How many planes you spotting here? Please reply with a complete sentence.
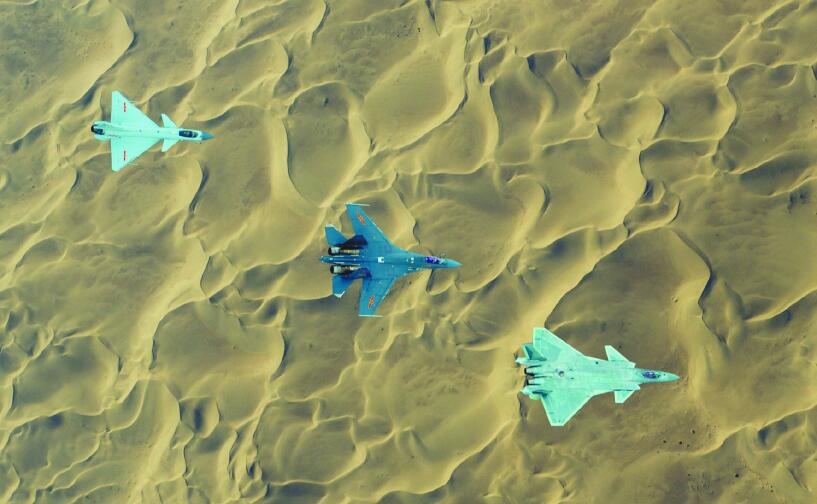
The photo contains 3 planes.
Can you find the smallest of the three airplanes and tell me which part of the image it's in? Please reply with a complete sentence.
The smallest of the three airplanes sits in the top left section of the image.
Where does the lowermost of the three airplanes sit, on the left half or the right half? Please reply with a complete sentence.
You can find the lowermost of the three airplanes on the right side of the picture.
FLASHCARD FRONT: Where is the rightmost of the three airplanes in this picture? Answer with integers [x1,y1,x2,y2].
[515,328,678,425]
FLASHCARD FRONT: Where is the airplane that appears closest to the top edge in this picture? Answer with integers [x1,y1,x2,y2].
[89,93,219,169]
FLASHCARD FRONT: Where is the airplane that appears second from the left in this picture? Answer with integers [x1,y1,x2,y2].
[319,204,464,317]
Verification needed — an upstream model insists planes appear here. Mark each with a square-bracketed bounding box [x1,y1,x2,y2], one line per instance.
[89,93,219,169]
[515,328,678,425]
[319,204,464,317]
